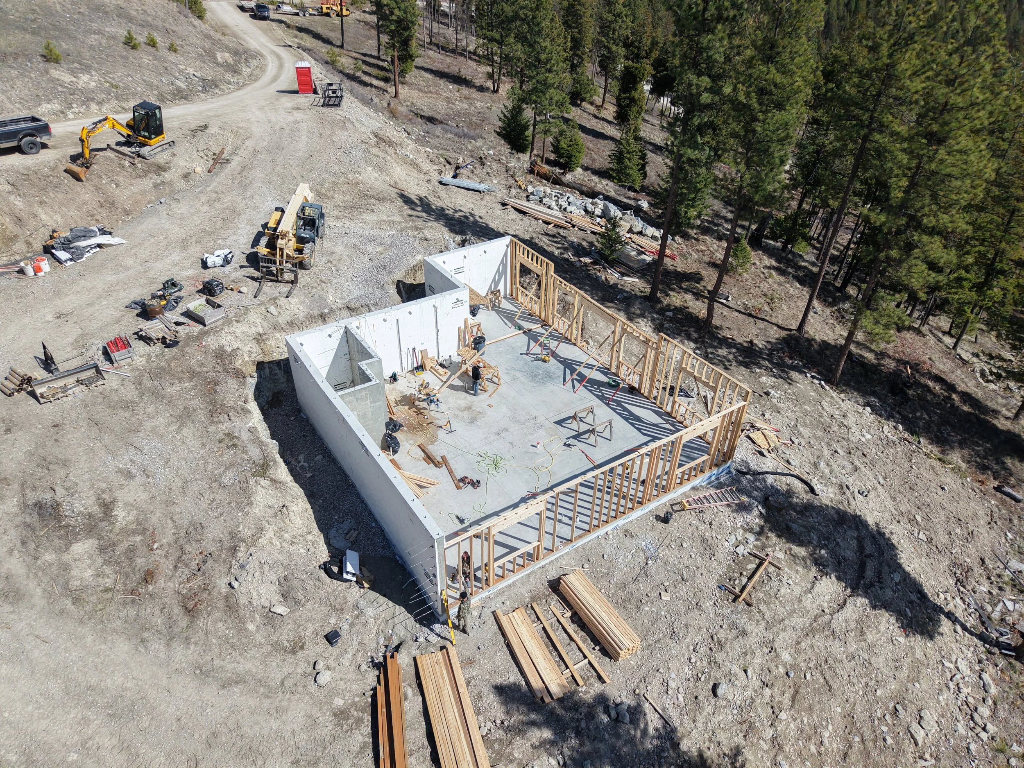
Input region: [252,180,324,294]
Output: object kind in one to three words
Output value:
work vehicle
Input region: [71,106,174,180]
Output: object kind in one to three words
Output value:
work vehicle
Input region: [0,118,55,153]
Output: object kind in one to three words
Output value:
truck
